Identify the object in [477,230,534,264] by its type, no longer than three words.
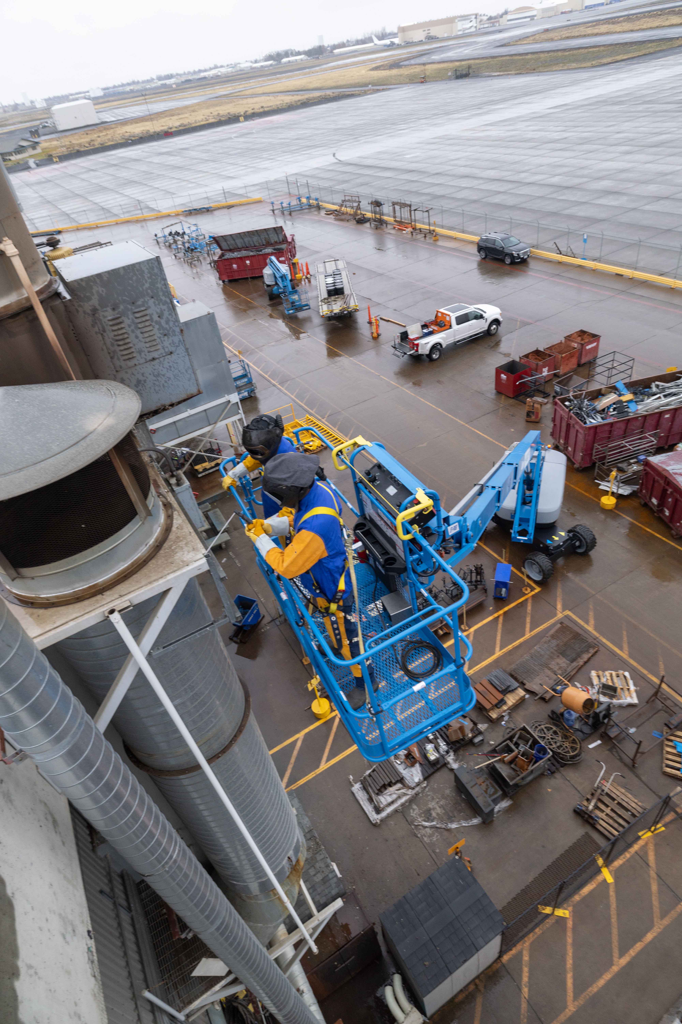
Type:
car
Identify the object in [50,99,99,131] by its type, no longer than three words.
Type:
hangar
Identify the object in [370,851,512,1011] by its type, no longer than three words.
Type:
shed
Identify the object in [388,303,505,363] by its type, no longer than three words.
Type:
truck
